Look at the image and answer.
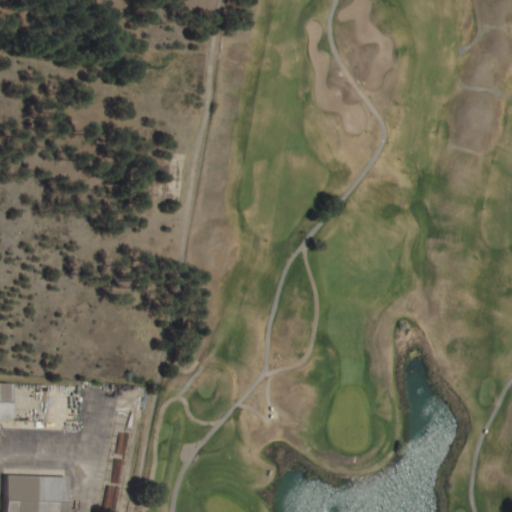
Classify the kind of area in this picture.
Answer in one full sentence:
This looks like a golf course.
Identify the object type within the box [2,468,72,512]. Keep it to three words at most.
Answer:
building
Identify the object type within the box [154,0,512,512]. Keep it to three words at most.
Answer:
golf course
